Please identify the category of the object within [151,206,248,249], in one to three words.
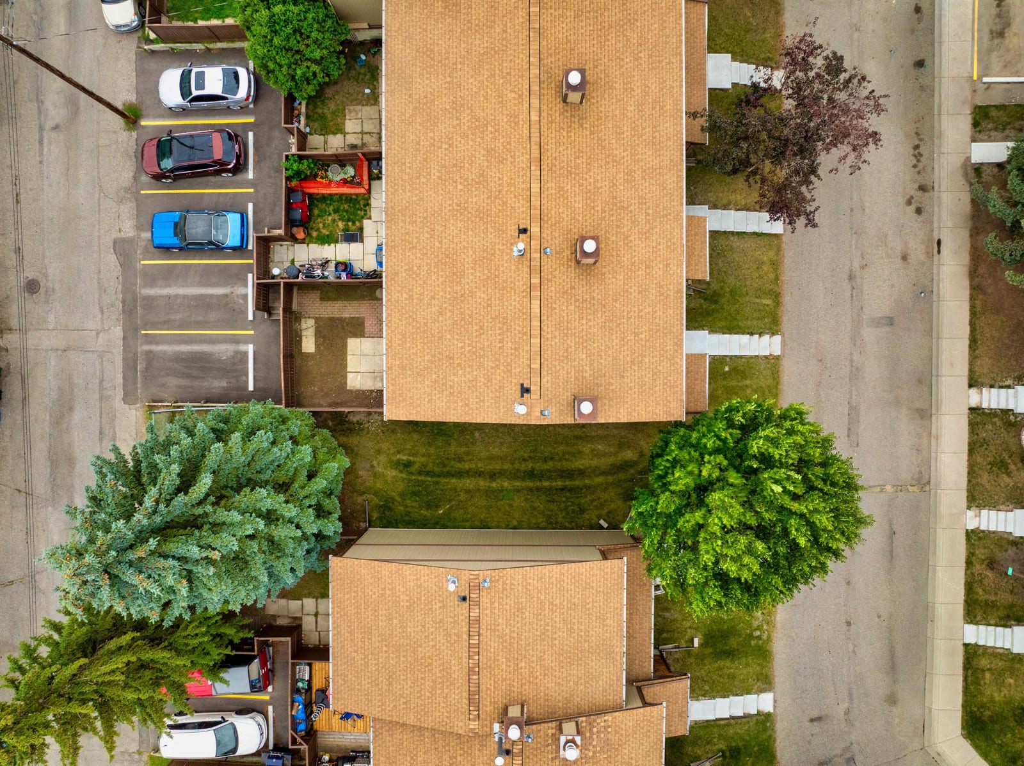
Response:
car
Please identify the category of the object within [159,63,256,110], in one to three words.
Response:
car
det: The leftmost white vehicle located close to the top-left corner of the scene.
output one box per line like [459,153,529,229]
[100,0,147,36]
